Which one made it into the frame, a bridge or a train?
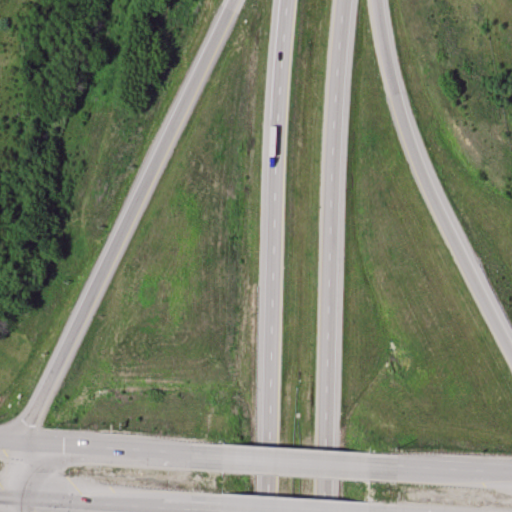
bridge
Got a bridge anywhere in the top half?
No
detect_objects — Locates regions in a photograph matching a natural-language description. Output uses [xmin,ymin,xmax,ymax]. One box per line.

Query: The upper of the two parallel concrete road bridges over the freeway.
[217,444,370,481]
